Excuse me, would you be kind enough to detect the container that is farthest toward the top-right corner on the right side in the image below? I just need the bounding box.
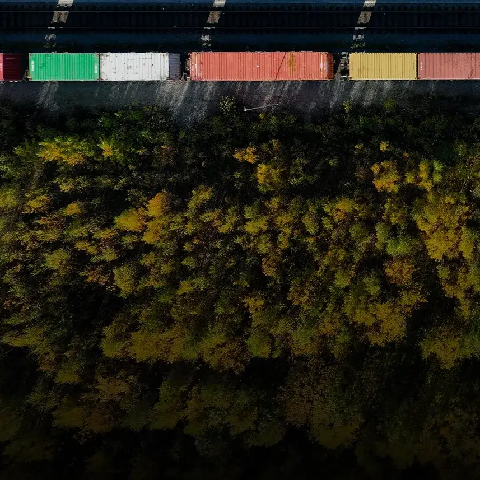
[418,53,480,80]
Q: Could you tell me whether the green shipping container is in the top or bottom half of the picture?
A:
top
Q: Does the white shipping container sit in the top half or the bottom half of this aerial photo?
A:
top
